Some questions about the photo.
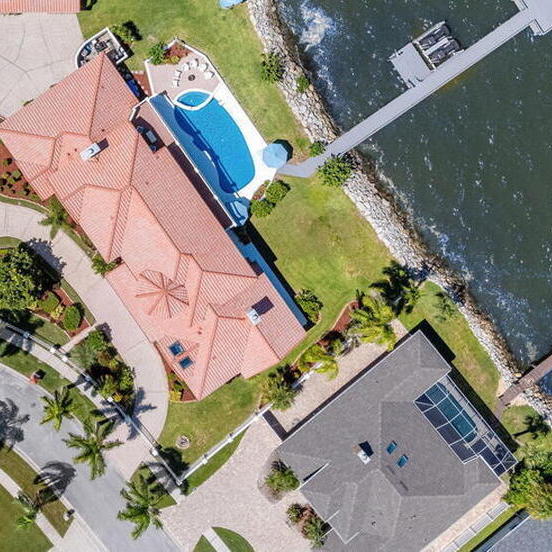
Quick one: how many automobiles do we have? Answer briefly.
0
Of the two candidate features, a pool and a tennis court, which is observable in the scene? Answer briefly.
pool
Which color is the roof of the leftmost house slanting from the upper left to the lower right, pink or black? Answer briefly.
pink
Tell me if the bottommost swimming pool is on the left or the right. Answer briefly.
right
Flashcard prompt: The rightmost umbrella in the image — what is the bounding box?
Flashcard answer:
[263,143,287,167]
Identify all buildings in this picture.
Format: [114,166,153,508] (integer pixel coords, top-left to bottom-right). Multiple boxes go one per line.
[0,52,306,401]
[276,327,502,552]
[468,504,552,552]
[0,0,80,15]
